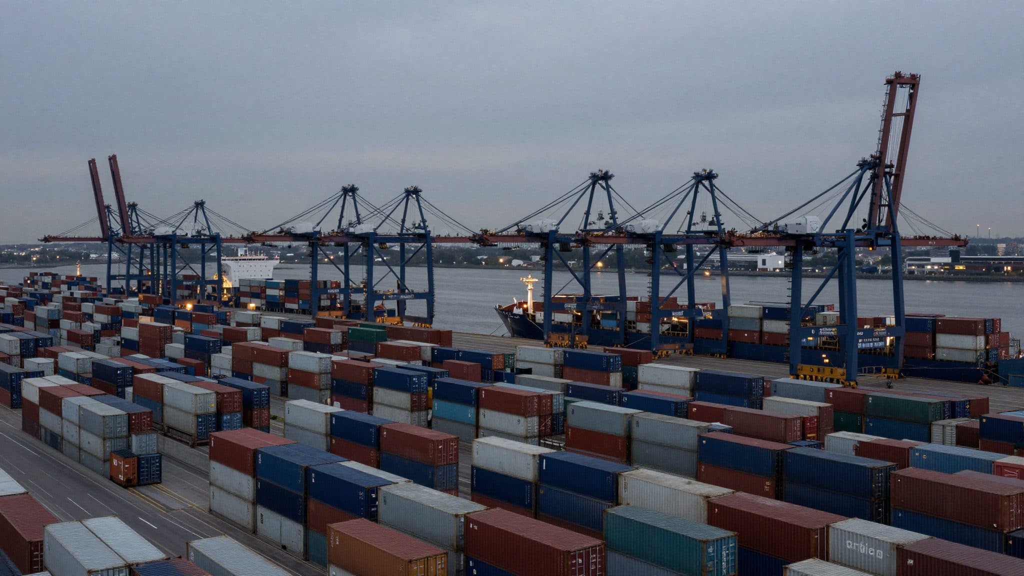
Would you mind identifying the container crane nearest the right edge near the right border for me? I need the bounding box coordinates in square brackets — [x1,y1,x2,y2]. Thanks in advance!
[713,74,980,385]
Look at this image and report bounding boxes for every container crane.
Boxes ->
[36,160,149,296]
[337,183,492,330]
[569,172,787,367]
[466,170,649,352]
[90,154,174,303]
[123,197,255,309]
[713,74,980,385]
[243,182,437,324]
